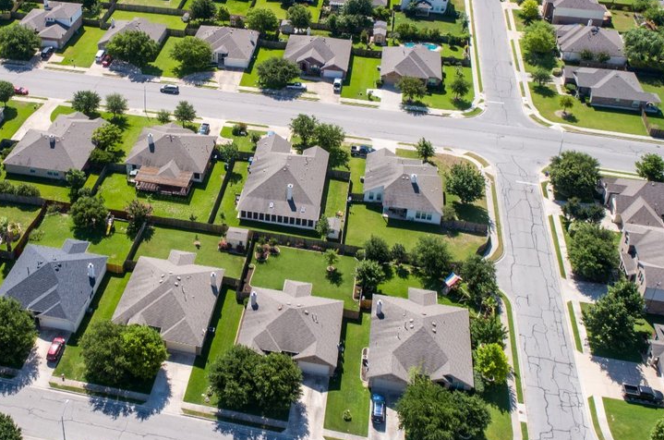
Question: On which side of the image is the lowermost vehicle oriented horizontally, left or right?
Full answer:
The lowermost vehicle oriented horizontally appears in the right half of the scene.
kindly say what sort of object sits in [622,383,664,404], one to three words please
vehicle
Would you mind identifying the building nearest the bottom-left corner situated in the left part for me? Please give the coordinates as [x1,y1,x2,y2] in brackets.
[0,238,107,335]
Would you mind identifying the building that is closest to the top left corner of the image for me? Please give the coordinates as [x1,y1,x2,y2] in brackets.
[18,0,83,47]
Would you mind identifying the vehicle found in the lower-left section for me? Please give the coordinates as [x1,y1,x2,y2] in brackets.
[47,336,66,361]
